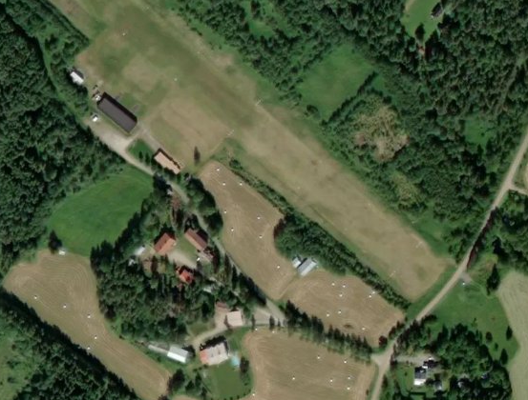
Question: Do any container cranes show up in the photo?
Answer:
No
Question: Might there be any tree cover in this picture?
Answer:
Yes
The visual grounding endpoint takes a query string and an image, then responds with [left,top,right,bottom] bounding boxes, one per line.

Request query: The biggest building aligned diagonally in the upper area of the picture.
[98,98,137,132]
